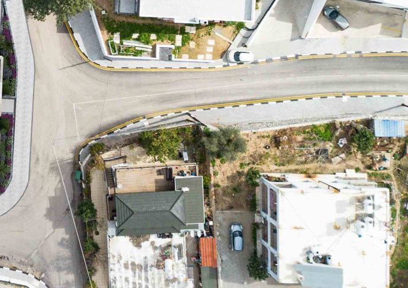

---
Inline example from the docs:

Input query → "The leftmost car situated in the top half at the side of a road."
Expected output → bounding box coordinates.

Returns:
[227,51,254,63]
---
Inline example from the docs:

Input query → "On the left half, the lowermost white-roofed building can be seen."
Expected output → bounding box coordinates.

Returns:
[103,214,196,288]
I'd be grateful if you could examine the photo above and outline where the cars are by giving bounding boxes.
[227,51,254,63]
[321,4,352,33]
[228,223,244,251]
